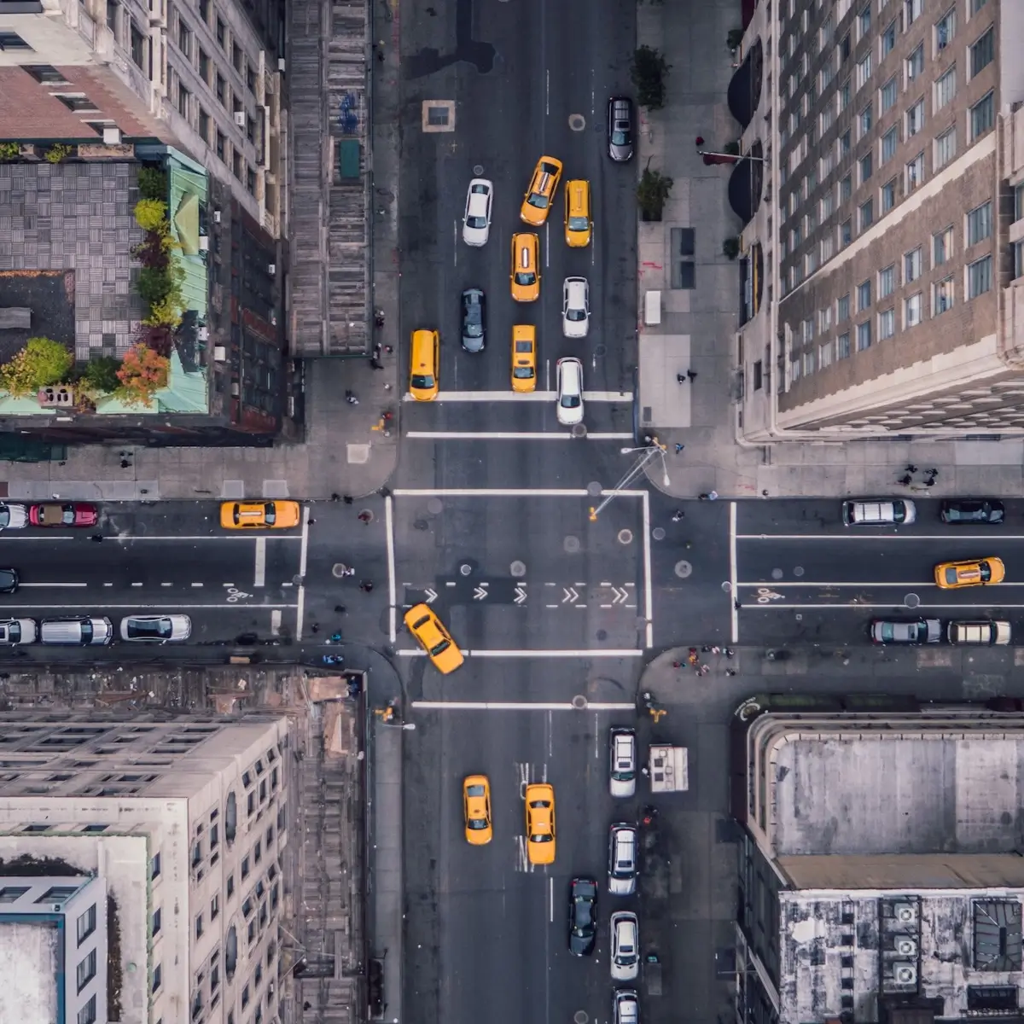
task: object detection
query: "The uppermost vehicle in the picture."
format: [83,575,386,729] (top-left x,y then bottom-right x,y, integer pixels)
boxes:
[606,96,637,165]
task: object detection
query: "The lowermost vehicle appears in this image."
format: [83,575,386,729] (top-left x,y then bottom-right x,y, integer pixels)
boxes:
[612,985,641,1024]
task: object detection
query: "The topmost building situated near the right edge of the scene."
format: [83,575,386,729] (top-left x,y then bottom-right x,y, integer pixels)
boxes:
[726,0,1024,449]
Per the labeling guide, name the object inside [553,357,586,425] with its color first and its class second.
white car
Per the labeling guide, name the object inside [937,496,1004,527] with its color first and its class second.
black car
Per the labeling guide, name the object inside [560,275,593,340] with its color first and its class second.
white car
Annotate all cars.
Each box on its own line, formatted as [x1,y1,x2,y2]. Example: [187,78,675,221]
[606,96,637,165]
[508,325,539,393]
[408,602,461,673]
[867,616,942,648]
[943,617,1011,648]
[567,874,600,954]
[840,496,915,528]
[508,232,542,303]
[120,612,194,644]
[609,907,641,981]
[930,555,1005,589]
[221,498,302,531]
[524,781,558,864]
[38,615,116,648]
[0,615,41,648]
[607,819,640,894]
[407,328,441,403]
[562,179,594,249]
[0,499,36,532]
[612,985,641,1024]
[0,565,25,596]
[31,500,102,530]
[553,357,586,425]
[462,772,495,845]
[607,725,640,797]
[560,275,593,340]
[457,288,488,353]
[522,156,560,229]
[461,178,494,249]
[937,496,1004,527]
